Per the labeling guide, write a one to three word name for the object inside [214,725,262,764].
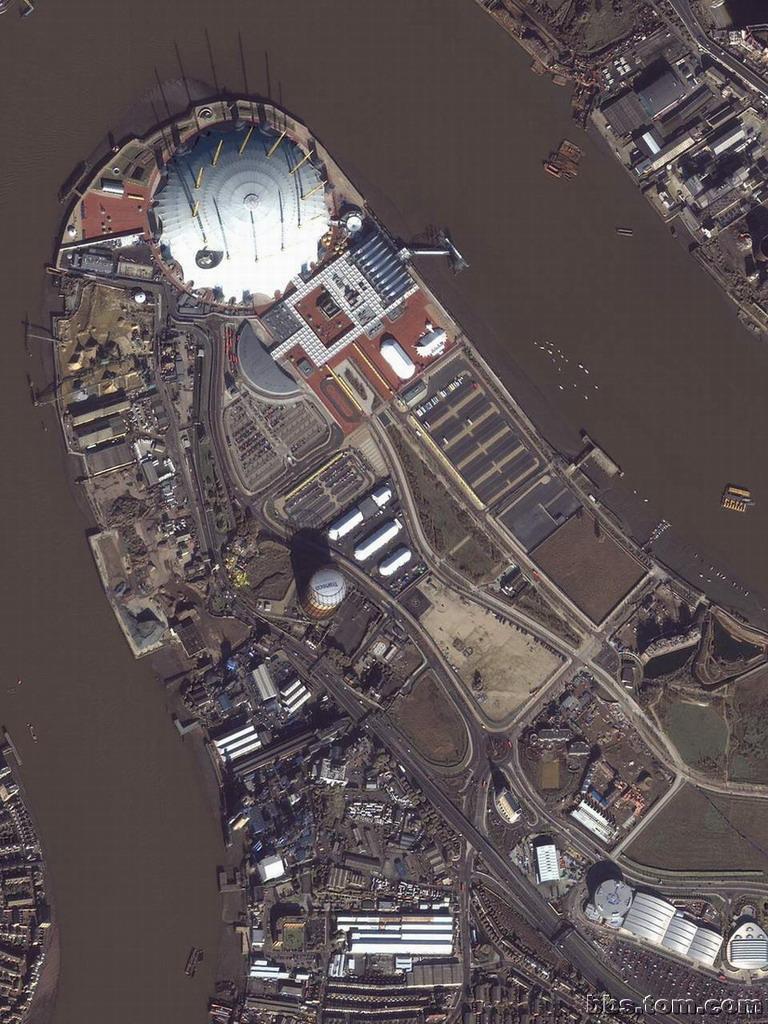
building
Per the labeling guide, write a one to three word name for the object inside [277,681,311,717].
building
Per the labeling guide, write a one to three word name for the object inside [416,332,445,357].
tent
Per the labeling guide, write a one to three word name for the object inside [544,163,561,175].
ship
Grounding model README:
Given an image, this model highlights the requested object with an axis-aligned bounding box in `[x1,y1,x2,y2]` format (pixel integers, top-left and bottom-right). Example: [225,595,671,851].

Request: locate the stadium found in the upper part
[148,110,336,312]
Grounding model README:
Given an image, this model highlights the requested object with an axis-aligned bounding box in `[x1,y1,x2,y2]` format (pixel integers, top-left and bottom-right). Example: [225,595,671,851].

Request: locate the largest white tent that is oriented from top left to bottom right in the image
[380,344,412,381]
